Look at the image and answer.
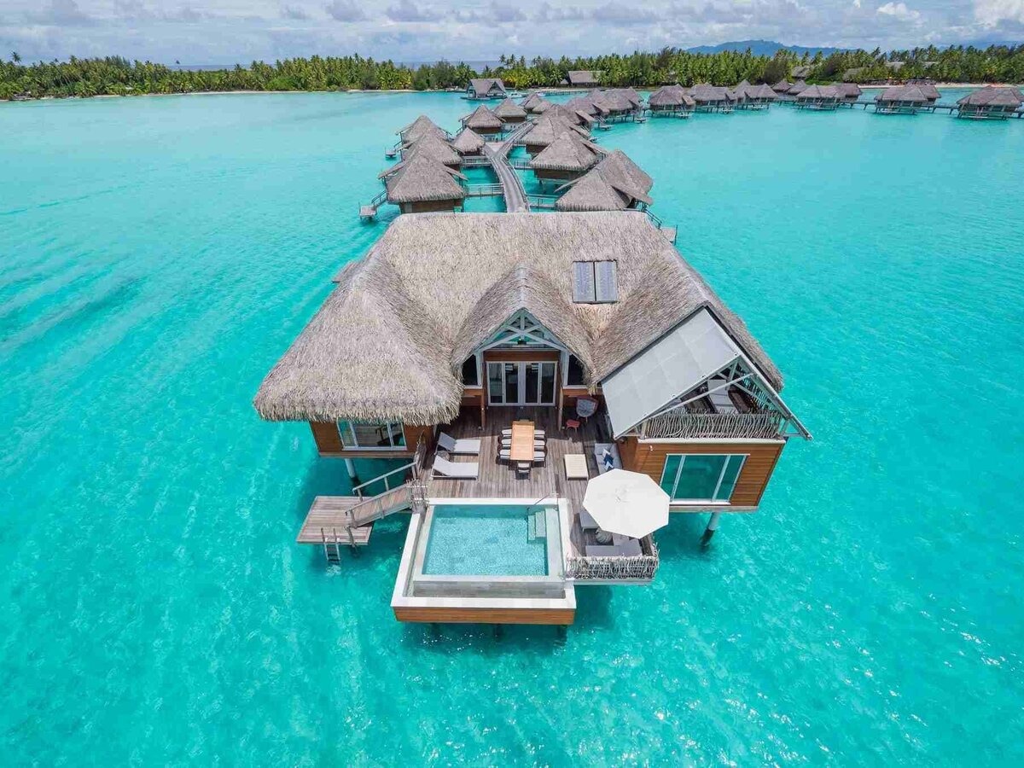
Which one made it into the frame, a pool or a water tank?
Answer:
pool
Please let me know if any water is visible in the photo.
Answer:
Yes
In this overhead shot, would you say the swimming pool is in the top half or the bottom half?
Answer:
bottom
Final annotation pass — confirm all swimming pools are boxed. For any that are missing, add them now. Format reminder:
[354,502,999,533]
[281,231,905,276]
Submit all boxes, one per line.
[391,489,578,623]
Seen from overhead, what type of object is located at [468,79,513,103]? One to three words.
building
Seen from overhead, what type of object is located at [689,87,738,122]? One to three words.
house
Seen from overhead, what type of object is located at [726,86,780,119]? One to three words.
house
